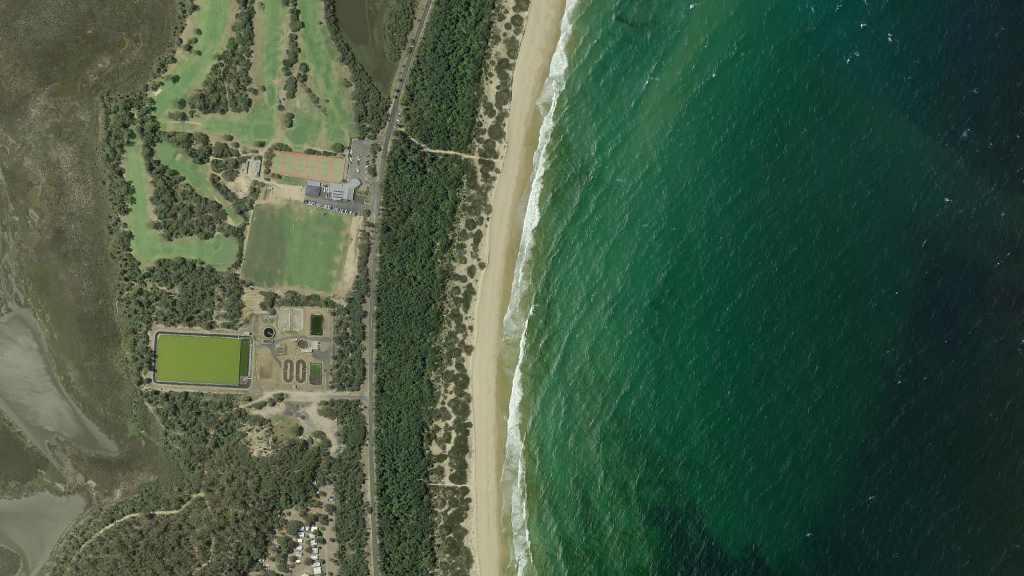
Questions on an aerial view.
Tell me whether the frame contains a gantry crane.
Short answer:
No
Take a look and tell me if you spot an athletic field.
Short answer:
Yes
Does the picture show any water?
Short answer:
Yes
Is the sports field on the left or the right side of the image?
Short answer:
left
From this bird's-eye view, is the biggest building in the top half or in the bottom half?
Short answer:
top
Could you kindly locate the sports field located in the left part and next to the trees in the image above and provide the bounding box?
[243,177,354,293]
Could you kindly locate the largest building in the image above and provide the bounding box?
[329,179,361,201]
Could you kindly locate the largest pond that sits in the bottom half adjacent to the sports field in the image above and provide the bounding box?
[151,329,255,390]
